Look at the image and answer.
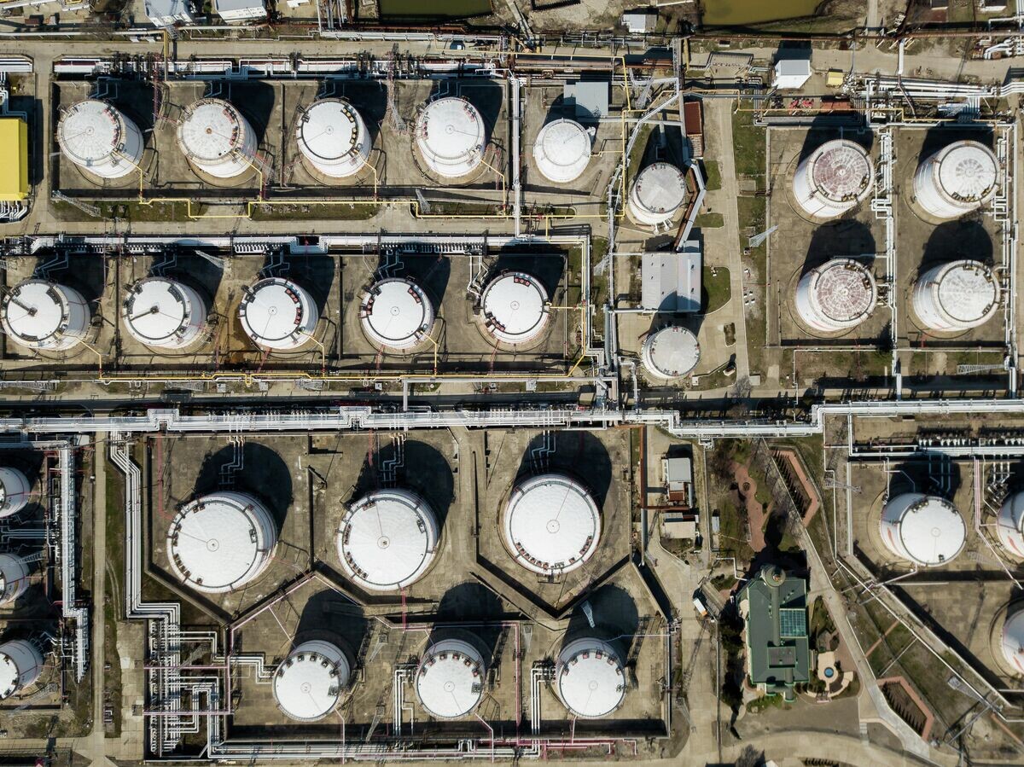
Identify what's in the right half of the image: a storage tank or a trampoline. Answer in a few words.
storage tank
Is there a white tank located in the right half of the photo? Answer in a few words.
Yes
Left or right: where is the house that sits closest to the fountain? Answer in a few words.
right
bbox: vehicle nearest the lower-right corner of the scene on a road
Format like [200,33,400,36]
[692,599,709,617]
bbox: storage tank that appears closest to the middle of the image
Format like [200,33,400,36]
[468,272,552,347]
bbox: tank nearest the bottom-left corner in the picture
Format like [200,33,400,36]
[0,632,47,706]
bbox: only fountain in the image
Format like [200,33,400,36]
[818,653,838,688]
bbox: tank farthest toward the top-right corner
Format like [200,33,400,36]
[907,139,1003,224]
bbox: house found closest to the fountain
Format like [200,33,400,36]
[732,558,816,703]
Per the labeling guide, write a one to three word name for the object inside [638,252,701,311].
building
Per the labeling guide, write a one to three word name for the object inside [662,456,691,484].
building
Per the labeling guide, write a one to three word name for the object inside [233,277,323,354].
storage tank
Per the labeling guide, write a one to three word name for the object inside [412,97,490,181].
storage tank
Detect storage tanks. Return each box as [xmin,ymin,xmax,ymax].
[787,140,876,222]
[993,486,1024,561]
[548,630,640,720]
[468,272,552,347]
[905,252,1002,338]
[273,629,365,720]
[789,257,881,336]
[0,548,34,613]
[530,117,595,183]
[292,97,377,181]
[907,139,1003,224]
[356,278,440,355]
[171,98,262,182]
[412,97,490,181]
[337,483,444,592]
[116,277,212,353]
[0,632,47,706]
[497,466,602,589]
[0,460,34,524]
[874,486,970,567]
[166,486,282,595]
[53,98,149,183]
[233,277,323,354]
[413,631,498,721]
[624,160,688,228]
[0,279,96,355]
[637,325,702,383]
